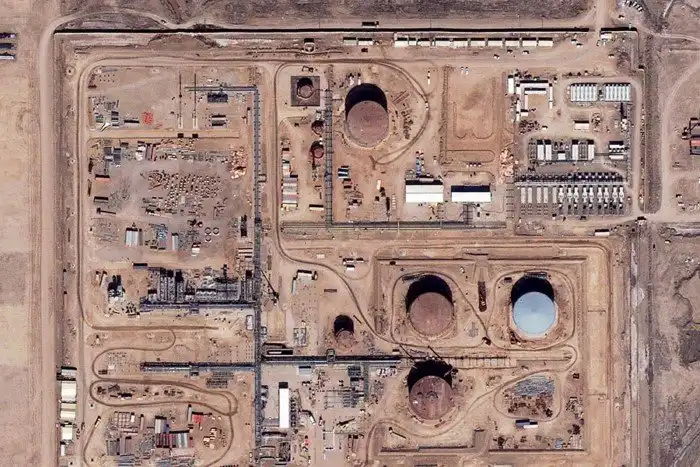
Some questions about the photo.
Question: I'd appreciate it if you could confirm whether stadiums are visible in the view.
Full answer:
No, the frame has no stadium in it.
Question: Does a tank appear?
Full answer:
Yes, a tank can be made out from above.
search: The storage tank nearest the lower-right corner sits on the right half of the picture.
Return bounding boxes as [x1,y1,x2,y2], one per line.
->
[511,291,558,338]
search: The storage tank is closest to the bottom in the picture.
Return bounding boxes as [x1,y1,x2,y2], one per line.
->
[407,375,455,424]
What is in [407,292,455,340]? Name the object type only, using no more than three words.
storage tank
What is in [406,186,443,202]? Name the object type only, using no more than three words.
building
